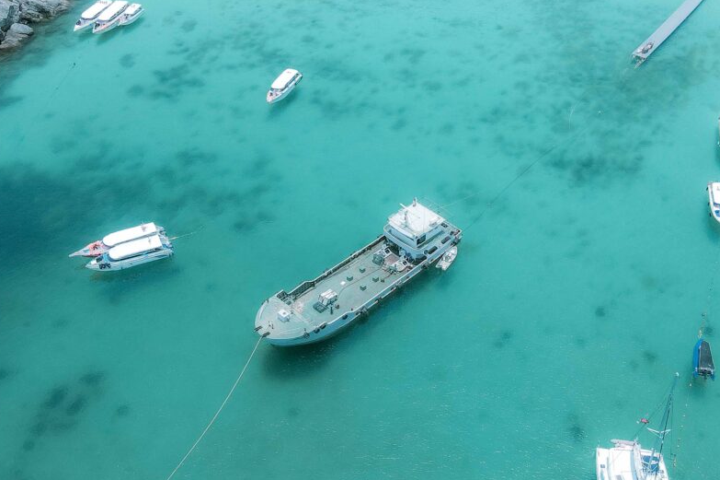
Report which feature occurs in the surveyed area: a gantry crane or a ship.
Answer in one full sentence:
It is a ship that can be seen here.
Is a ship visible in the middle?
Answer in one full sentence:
Yes, the scene does show a ship in the middle.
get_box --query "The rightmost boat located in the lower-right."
[693,340,720,386]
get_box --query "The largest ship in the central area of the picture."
[257,194,466,348]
